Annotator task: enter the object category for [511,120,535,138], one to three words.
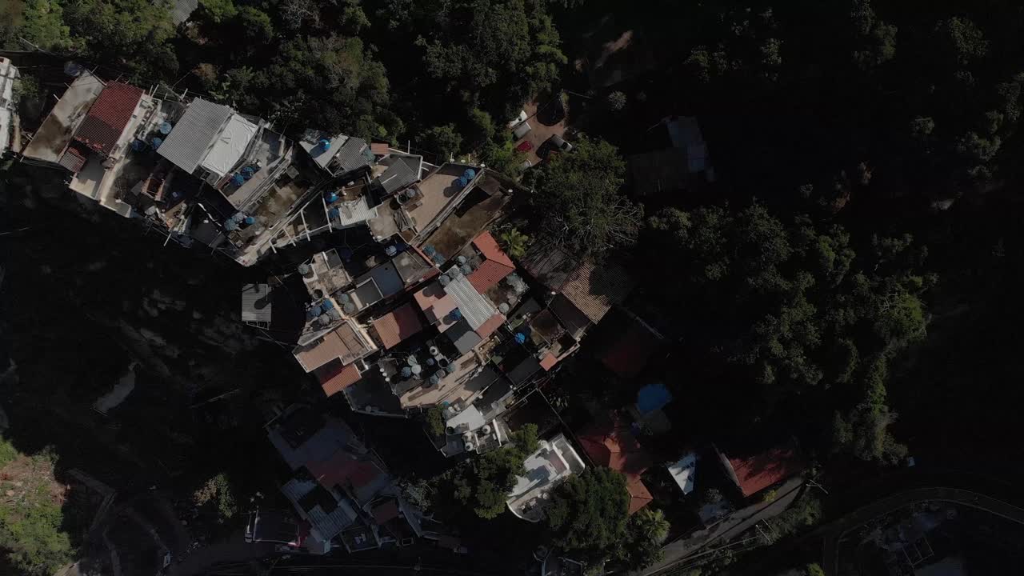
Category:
vehicle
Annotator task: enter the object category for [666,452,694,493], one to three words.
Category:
shed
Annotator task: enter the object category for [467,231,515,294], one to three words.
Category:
house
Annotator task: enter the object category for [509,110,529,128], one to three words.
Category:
car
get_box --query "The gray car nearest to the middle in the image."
[517,158,536,172]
